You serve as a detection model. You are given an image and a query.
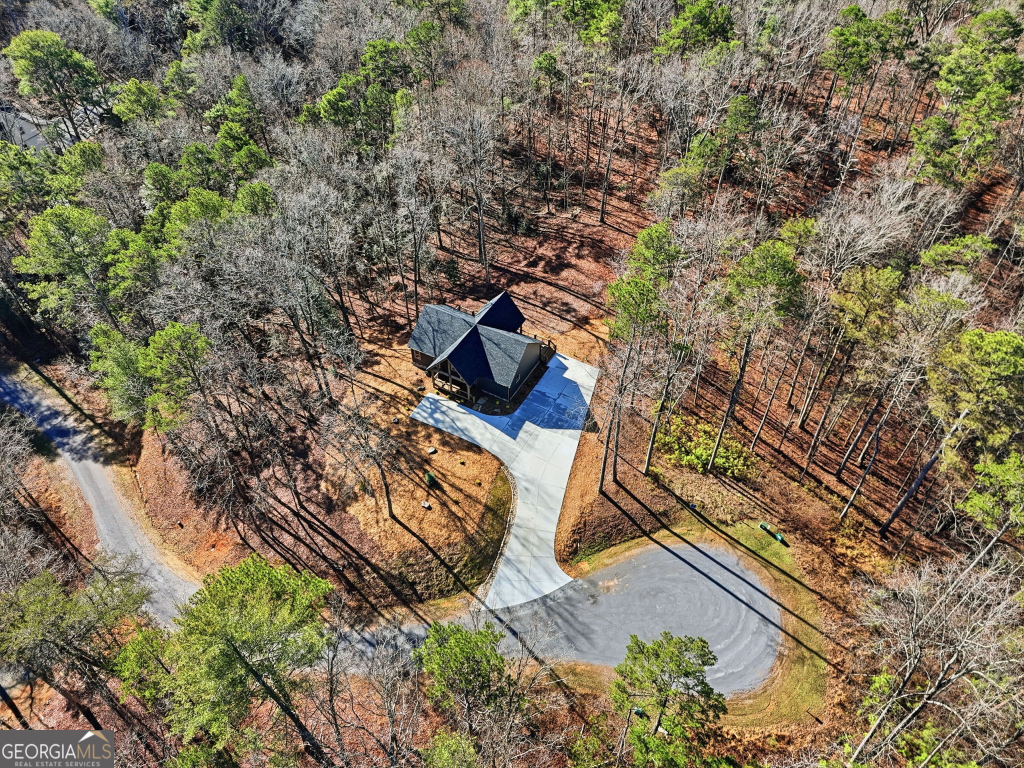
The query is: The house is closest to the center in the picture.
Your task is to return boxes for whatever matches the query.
[407,290,558,405]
